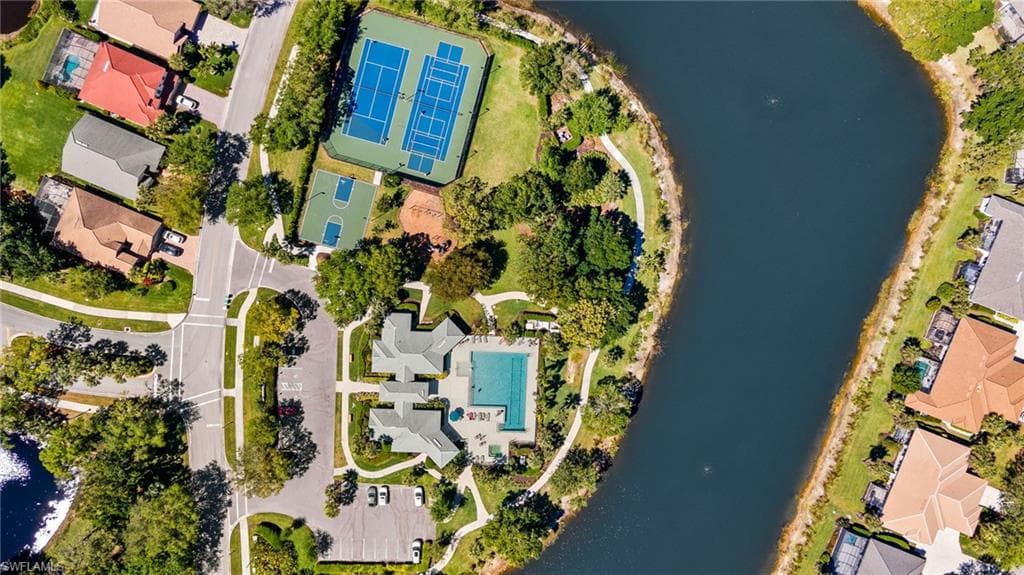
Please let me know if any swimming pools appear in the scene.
Yes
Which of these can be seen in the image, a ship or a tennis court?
tennis court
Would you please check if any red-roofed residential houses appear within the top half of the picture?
Yes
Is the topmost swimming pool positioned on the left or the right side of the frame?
left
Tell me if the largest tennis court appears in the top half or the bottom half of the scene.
top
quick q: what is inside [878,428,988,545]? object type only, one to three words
house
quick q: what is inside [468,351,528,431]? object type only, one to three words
swimming pool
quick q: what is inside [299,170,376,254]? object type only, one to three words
basketball court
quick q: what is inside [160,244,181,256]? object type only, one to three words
vehicle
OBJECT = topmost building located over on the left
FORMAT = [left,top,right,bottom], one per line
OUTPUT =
[94,0,205,60]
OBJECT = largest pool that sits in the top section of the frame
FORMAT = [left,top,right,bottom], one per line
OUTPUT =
[58,54,81,83]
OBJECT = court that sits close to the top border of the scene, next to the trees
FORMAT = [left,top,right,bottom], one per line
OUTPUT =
[325,10,489,184]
